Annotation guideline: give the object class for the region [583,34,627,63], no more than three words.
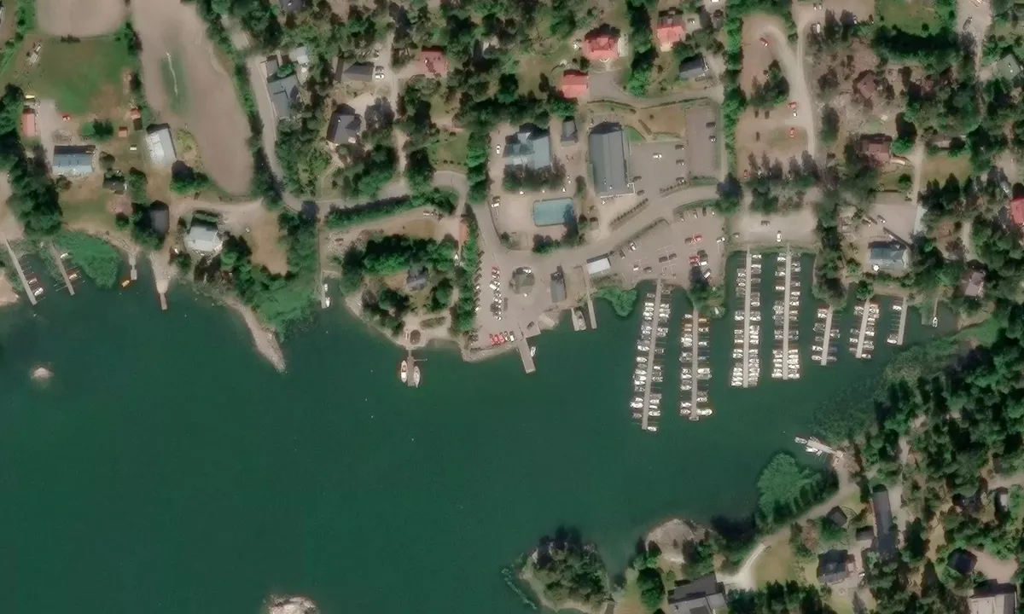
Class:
house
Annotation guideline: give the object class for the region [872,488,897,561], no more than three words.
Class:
barn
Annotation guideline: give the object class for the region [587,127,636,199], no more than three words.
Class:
building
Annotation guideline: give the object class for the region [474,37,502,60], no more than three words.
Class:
house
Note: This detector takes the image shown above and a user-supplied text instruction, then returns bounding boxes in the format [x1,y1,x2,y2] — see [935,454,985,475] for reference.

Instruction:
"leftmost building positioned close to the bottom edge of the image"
[665,574,730,614]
